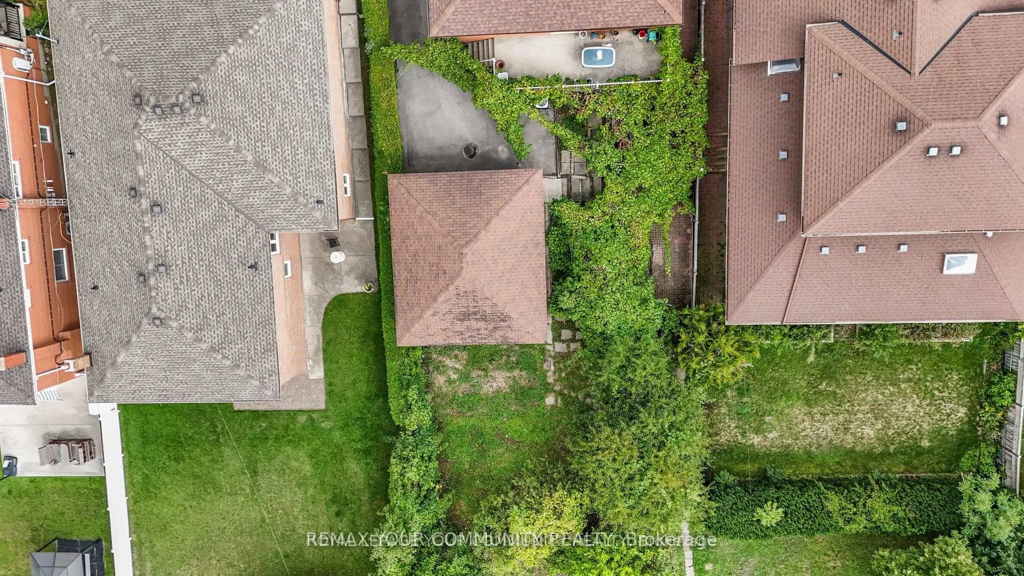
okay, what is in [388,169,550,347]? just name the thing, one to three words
building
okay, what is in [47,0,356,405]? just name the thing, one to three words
house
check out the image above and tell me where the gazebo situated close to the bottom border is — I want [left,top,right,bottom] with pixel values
[30,534,108,576]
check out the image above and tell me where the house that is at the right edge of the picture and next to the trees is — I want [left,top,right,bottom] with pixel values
[721,0,1024,327]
